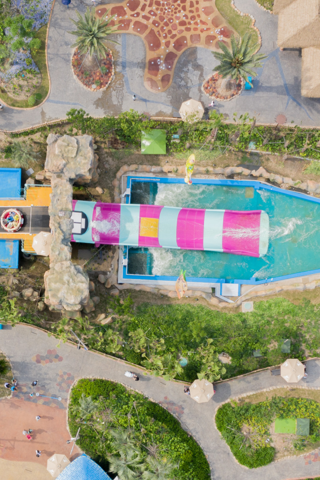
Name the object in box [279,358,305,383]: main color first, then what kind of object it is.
white umbrella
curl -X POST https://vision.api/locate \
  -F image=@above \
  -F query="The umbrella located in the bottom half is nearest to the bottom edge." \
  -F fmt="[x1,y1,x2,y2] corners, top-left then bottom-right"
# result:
[46,451,71,476]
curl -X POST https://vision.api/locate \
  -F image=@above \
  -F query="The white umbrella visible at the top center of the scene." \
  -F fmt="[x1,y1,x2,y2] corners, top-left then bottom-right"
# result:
[179,98,204,124]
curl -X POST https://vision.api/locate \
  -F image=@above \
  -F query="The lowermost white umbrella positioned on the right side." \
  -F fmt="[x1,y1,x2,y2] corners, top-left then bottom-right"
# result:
[189,378,213,402]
